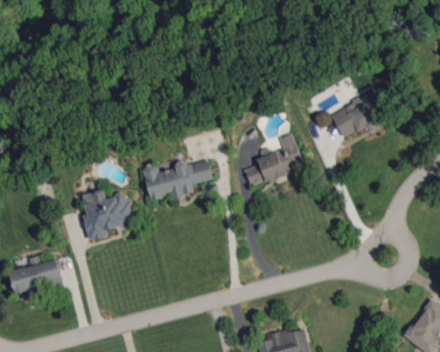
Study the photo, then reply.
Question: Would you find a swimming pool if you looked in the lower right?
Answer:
No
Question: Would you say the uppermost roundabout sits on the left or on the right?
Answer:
right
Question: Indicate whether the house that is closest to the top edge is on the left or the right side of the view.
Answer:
right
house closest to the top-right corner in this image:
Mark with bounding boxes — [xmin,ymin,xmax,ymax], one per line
[332,95,373,136]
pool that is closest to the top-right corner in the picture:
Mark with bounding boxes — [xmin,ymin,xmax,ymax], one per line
[316,94,340,112]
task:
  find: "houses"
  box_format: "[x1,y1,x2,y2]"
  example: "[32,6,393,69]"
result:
[404,302,440,352]
[81,188,134,240]
[8,256,62,296]
[141,156,214,203]
[259,330,313,352]
[332,95,373,136]
[244,132,300,186]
